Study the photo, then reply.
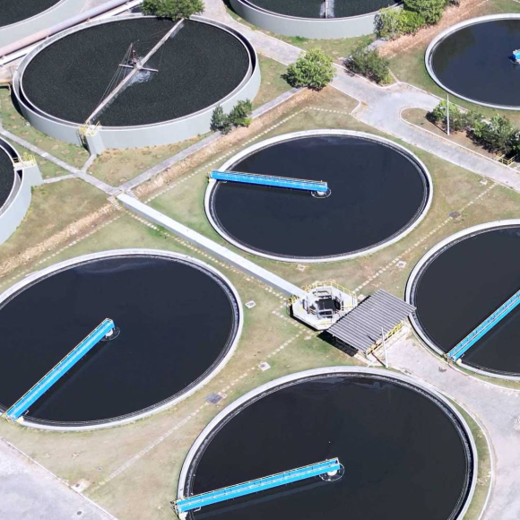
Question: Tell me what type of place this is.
industrial area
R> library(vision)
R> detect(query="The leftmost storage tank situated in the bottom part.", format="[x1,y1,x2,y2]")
[0,250,241,430]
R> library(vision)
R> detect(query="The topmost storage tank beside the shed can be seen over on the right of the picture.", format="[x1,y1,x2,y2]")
[203,129,433,263]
